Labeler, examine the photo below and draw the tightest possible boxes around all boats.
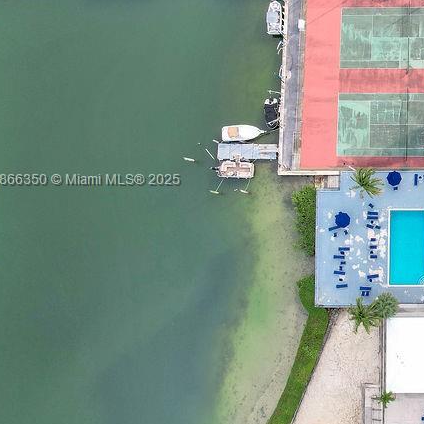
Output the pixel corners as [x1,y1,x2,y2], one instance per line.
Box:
[214,161,254,178]
[264,98,278,127]
[222,125,265,141]
[267,1,282,36]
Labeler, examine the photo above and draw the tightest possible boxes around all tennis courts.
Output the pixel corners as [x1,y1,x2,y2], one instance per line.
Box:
[300,82,424,169]
[304,0,424,82]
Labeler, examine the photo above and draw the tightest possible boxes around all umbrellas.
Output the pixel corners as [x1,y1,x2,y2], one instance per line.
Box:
[386,171,402,186]
[335,212,351,228]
